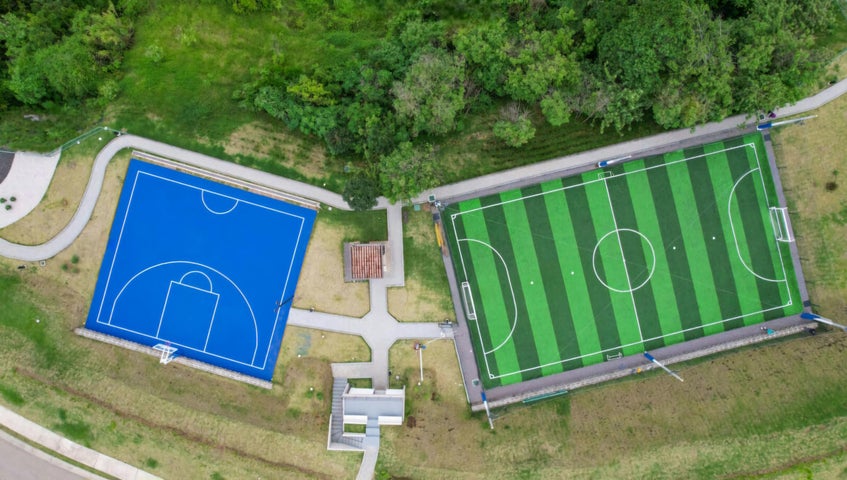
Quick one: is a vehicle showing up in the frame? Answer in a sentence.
No, no vehicle can be seen from above.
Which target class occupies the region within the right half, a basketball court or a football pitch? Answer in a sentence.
The one visible within the right half is a football pitch.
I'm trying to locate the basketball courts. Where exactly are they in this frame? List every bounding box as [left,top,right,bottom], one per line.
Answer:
[84,158,317,383]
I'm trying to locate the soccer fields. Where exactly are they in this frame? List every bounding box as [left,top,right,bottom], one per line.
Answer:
[442,133,803,389]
